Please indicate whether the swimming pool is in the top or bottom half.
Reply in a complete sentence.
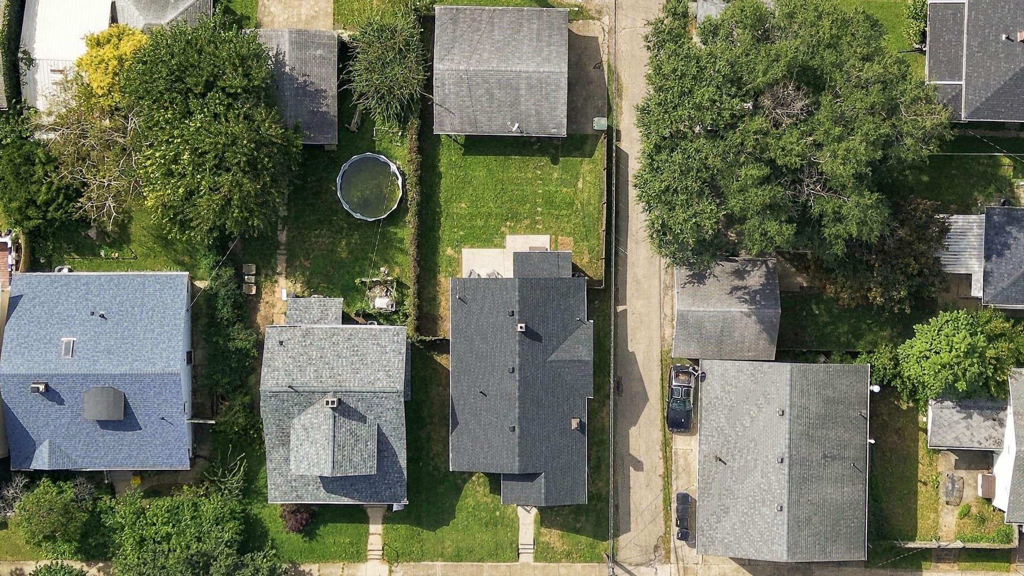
The swimming pool sits in the top half of the picture.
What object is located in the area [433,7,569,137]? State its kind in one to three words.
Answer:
building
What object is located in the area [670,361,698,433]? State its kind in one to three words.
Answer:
truck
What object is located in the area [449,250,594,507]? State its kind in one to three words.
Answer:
house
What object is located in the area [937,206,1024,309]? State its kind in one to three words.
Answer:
house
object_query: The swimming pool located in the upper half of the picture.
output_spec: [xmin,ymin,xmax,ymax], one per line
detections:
[337,154,402,219]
